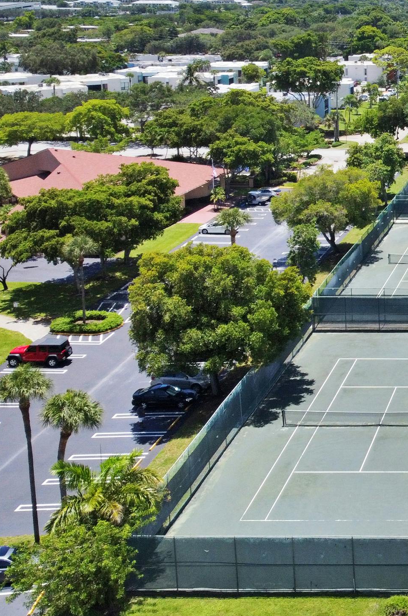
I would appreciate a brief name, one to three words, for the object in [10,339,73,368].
car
